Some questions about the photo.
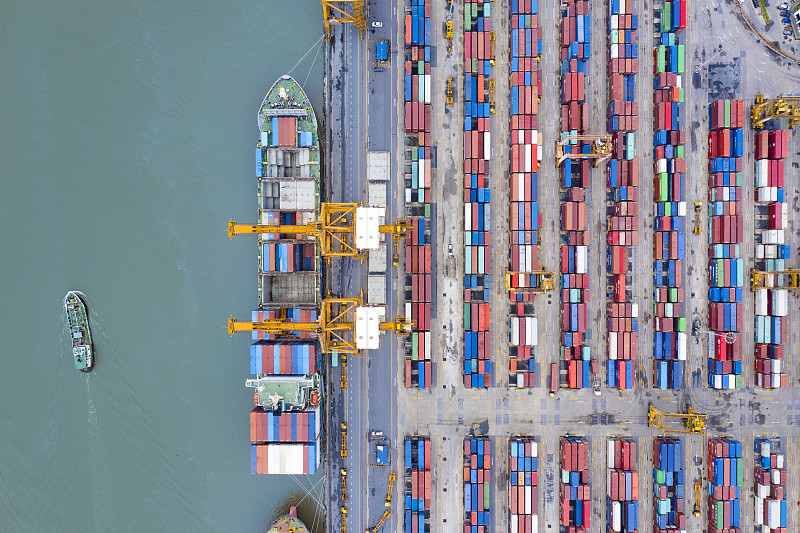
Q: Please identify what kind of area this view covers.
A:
port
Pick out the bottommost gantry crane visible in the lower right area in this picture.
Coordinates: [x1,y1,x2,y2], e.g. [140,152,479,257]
[649,401,712,438]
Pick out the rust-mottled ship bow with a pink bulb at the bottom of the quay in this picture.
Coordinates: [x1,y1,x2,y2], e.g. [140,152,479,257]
[266,506,311,533]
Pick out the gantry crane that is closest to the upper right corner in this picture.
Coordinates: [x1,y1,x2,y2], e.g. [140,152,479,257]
[752,95,800,131]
